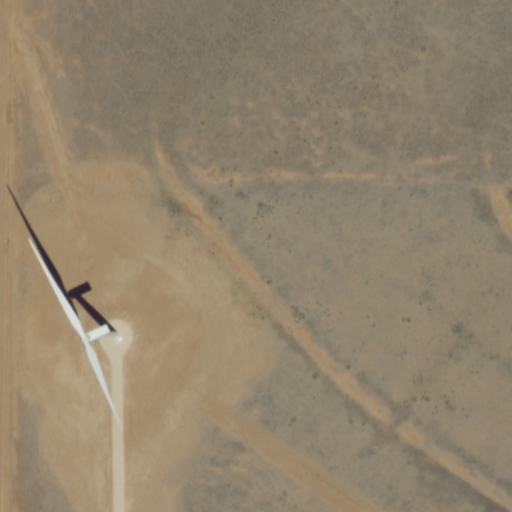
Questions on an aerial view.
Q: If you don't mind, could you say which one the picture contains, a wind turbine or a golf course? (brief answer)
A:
wind turbine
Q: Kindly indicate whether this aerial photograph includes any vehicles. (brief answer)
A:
No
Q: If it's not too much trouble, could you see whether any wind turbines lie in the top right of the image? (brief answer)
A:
No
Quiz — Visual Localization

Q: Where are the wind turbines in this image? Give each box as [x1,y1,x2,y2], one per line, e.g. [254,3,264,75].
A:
[29,238,122,432]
